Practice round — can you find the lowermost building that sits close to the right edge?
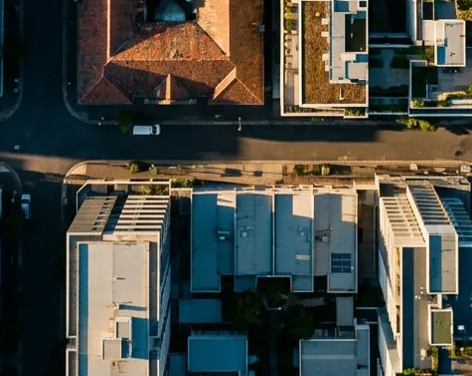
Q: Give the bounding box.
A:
[381,195,472,376]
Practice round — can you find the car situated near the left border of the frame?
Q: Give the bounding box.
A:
[19,194,31,219]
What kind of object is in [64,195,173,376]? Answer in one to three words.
building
